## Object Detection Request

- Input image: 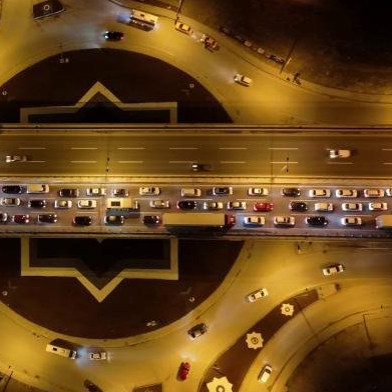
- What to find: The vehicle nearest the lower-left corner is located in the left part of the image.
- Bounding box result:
[47,342,76,360]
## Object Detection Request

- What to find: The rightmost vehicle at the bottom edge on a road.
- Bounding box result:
[257,363,273,385]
